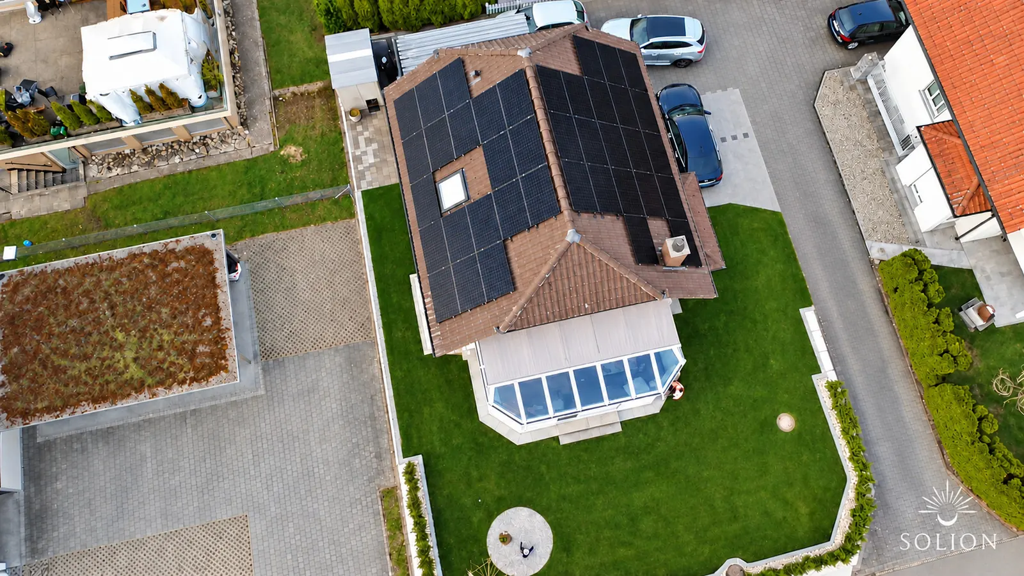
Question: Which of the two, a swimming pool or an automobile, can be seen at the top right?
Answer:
automobile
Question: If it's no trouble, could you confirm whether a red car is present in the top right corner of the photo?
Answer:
No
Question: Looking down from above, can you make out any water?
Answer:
No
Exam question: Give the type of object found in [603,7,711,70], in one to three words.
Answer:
car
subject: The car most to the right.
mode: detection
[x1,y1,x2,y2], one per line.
[824,0,908,54]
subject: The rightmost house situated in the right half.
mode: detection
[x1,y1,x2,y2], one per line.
[869,0,1024,304]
